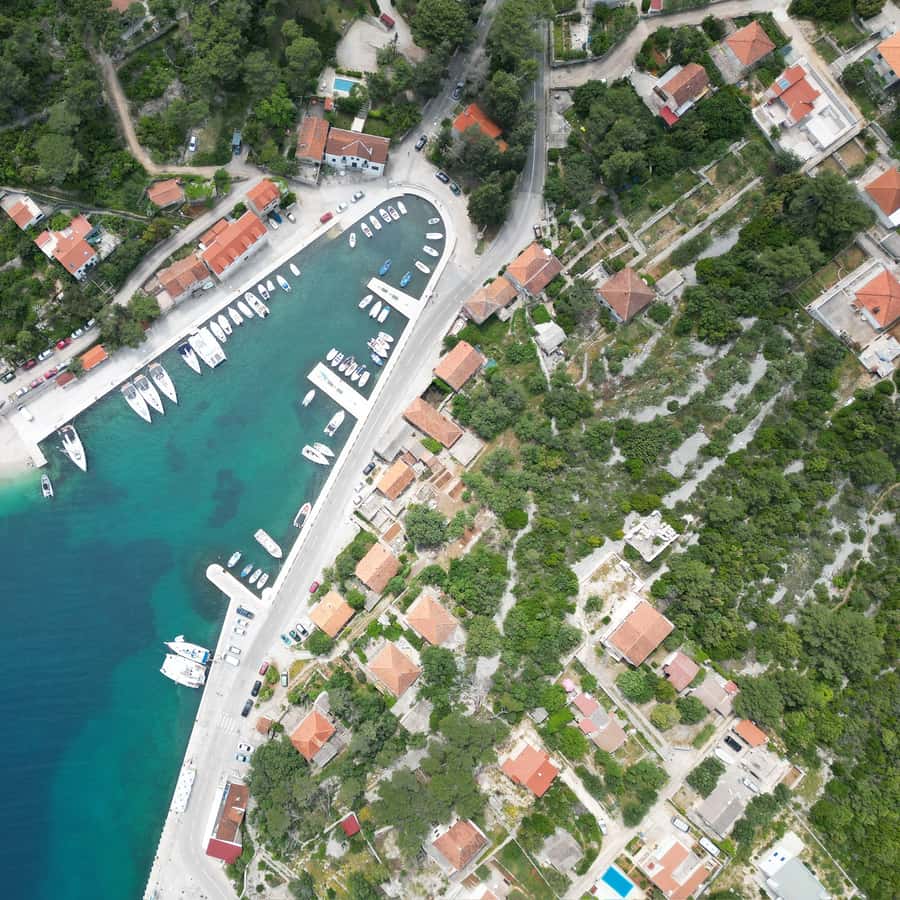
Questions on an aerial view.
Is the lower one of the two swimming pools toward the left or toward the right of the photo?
right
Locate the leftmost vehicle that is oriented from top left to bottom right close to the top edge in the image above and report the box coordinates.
[381,11,395,26]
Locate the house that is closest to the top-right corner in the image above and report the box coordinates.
[869,30,900,88]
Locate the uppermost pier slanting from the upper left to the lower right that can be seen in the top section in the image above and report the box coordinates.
[367,278,419,318]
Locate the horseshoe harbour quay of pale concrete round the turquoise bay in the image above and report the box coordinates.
[3,150,542,900]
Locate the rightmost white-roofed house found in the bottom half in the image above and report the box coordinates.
[751,824,830,900]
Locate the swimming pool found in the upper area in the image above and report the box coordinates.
[332,76,354,93]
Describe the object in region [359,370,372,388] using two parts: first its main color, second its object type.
white boat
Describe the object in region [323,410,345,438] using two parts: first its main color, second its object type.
white boat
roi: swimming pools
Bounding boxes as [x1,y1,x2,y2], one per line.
[599,863,635,900]
[332,76,354,93]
